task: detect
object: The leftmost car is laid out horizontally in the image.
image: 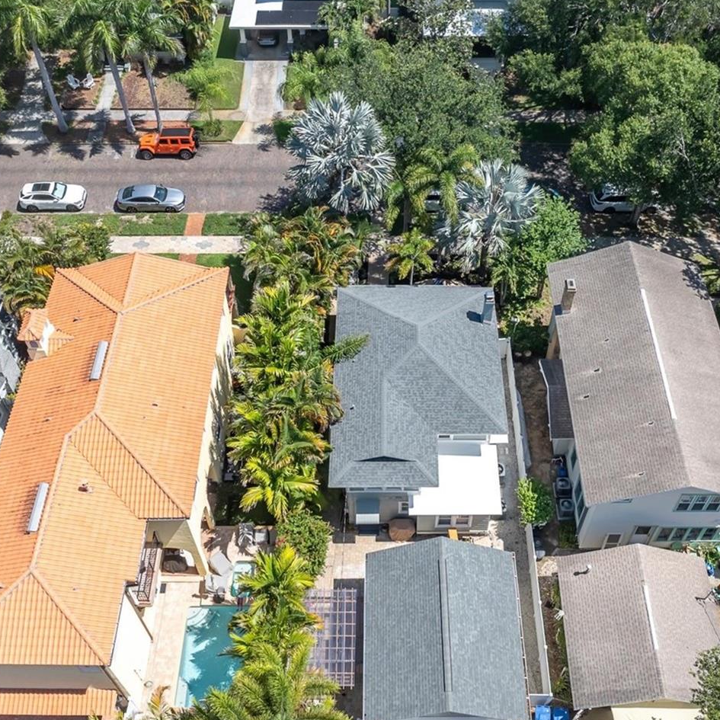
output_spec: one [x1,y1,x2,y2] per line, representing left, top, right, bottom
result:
[13,179,88,213]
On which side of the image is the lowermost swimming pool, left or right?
left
